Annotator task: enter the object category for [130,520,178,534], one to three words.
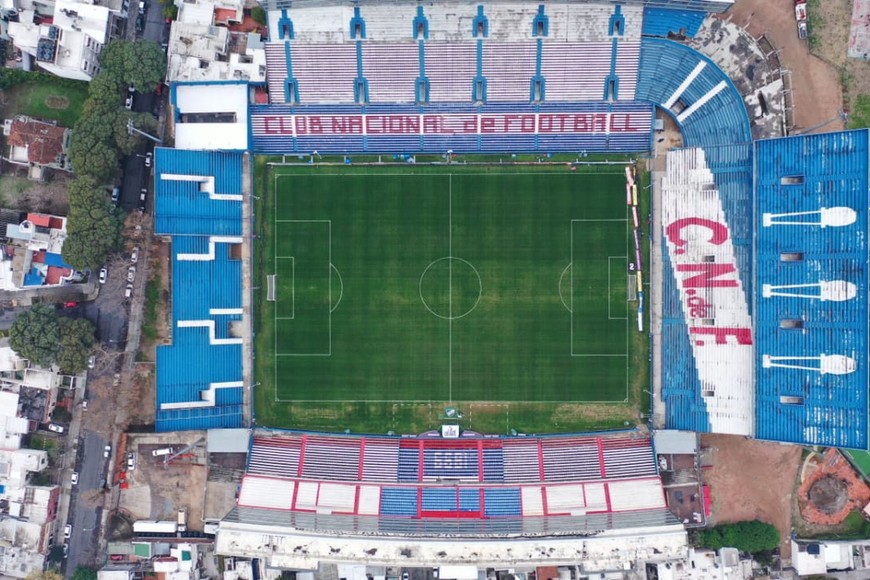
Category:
trailer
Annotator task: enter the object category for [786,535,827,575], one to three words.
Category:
house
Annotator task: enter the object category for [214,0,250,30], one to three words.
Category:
house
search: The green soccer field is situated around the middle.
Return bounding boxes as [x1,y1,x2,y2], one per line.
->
[250,156,656,440]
